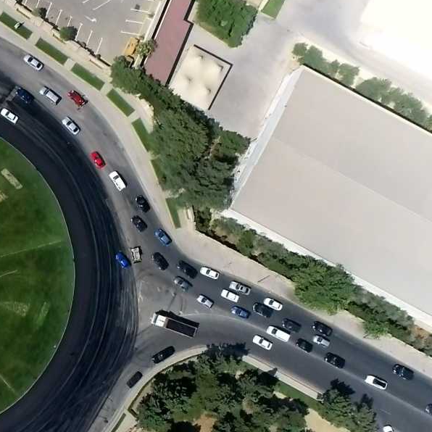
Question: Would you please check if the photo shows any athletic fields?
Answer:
No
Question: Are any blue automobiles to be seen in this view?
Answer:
Yes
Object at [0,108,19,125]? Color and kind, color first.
white car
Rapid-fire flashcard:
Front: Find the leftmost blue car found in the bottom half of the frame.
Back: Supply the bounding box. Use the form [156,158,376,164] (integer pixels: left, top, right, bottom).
[115,250,131,270]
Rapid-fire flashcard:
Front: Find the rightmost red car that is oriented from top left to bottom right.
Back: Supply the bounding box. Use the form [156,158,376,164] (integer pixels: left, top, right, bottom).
[90,151,106,171]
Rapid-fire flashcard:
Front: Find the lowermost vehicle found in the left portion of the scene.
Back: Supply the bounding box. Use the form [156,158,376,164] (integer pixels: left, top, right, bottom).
[125,370,143,388]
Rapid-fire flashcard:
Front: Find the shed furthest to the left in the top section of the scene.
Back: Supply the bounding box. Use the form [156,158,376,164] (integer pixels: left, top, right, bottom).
[142,0,194,88]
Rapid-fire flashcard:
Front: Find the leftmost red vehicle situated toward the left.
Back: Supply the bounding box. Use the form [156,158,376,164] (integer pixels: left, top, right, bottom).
[66,89,88,108]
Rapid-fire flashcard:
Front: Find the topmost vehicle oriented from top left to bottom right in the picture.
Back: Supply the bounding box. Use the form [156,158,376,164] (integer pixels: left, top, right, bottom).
[22,54,44,71]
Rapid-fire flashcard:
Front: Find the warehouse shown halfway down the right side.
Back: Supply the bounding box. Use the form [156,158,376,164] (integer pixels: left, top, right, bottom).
[222,67,432,325]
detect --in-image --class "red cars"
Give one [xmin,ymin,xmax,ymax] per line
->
[66,89,88,108]
[90,151,106,171]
